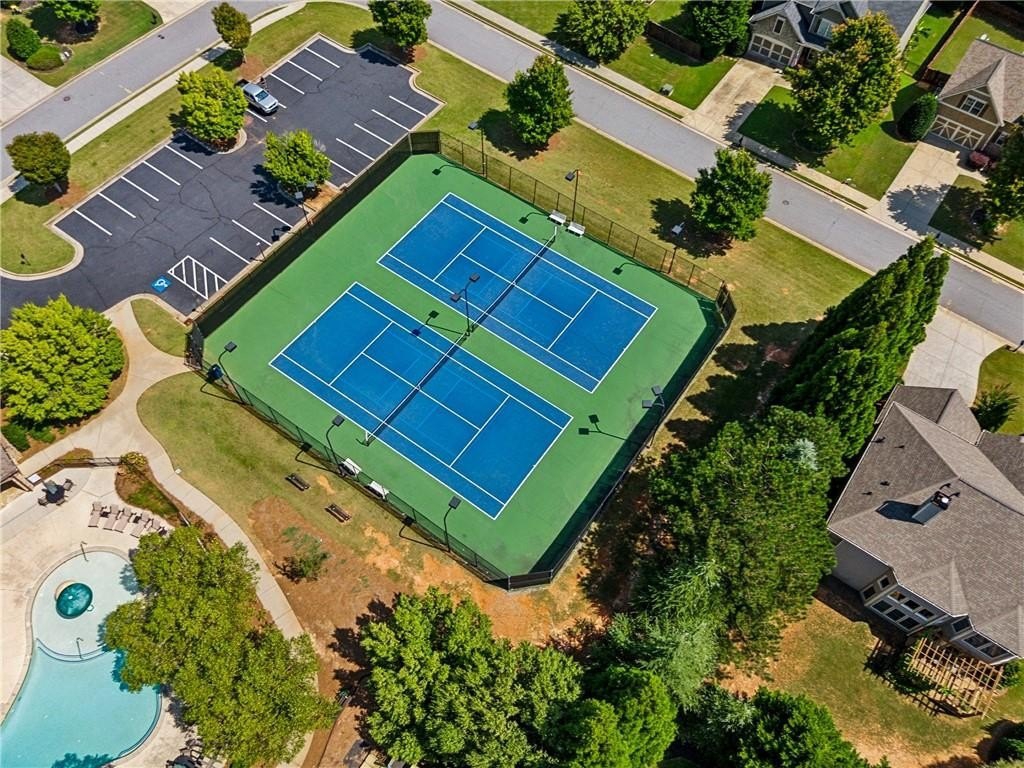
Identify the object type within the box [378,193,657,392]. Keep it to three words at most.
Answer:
tennis court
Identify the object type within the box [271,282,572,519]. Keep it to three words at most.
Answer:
tennis court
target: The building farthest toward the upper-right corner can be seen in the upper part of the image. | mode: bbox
[931,36,1024,155]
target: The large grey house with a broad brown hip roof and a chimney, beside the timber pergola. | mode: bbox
[814,382,1024,686]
